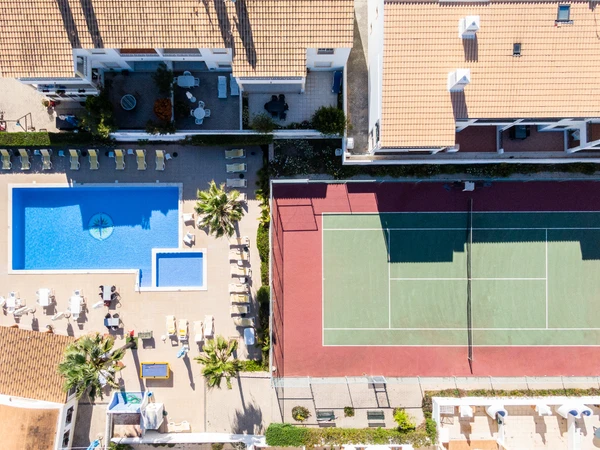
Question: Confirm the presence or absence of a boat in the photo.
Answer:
No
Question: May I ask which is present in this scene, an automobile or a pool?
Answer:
pool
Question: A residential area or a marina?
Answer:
residential area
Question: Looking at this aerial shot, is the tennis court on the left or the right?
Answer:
right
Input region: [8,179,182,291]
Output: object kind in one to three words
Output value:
swimming pool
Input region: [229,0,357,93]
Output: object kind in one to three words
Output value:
house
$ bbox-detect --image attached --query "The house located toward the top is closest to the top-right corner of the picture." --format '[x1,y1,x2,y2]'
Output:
[368,0,600,156]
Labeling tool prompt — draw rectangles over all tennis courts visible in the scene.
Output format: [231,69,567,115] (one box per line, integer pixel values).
[274,183,600,377]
